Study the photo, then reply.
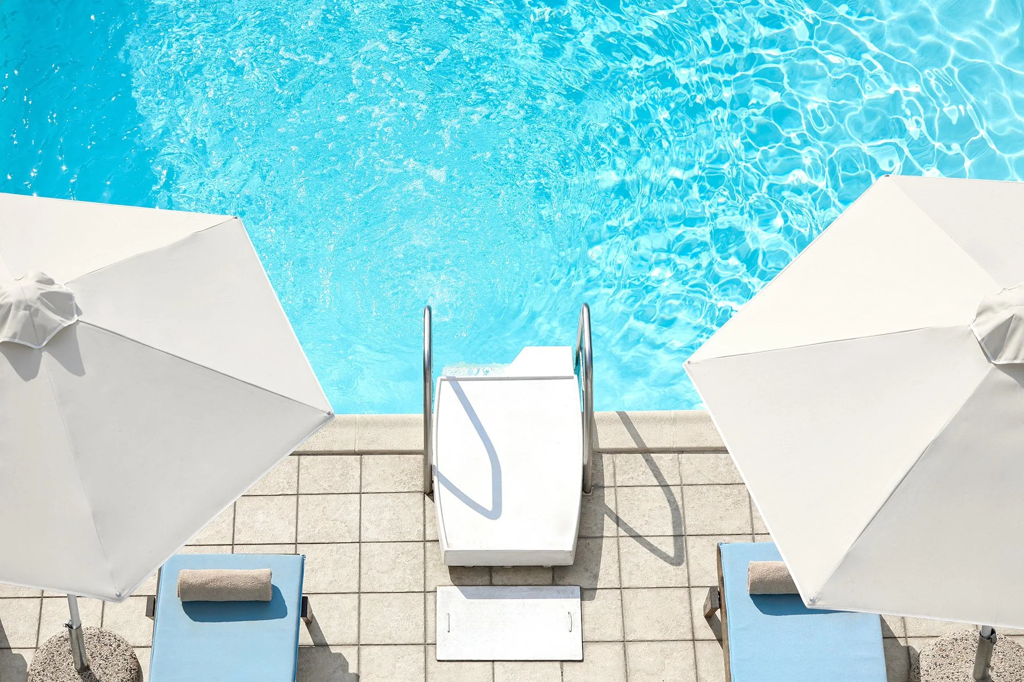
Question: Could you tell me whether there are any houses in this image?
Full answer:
No, there is no house in the image.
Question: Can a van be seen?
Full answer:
No, the frame has no van in it.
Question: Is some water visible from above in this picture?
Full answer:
Yes, there's water in this view.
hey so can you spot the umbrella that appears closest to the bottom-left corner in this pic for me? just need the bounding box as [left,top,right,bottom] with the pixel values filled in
[0,197,334,682]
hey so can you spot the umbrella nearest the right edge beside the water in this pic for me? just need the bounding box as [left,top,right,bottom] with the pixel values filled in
[685,175,1024,682]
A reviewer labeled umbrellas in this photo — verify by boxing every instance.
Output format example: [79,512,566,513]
[0,197,334,682]
[685,175,1024,682]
